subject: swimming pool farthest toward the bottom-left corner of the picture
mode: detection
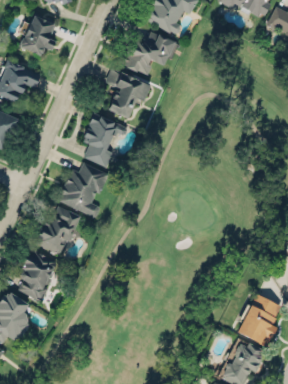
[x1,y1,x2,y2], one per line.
[30,310,47,330]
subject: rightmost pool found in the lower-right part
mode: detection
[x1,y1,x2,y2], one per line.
[210,334,232,363]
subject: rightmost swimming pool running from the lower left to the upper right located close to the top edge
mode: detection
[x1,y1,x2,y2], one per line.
[177,13,200,36]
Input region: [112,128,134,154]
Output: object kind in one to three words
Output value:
swimming pool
